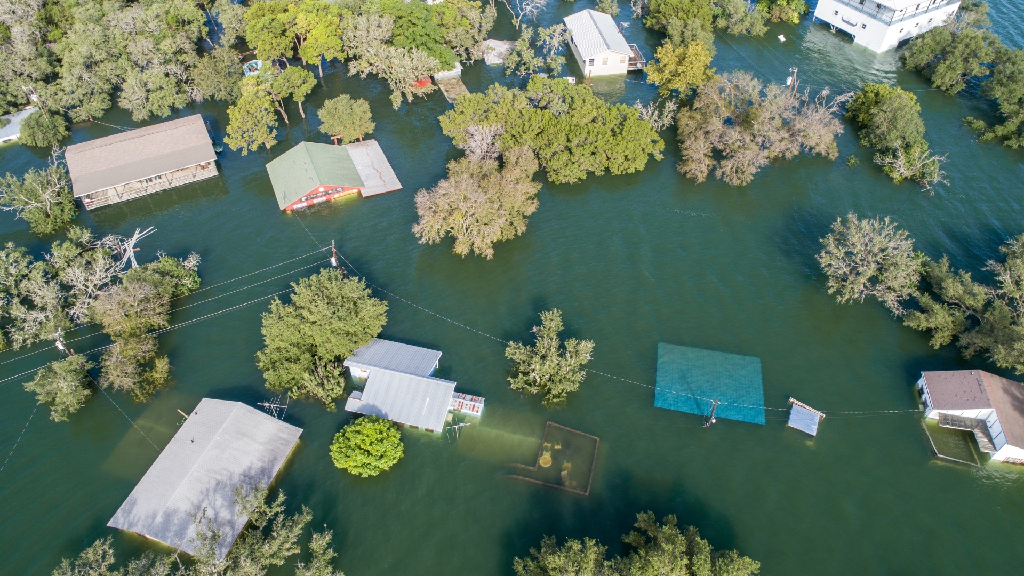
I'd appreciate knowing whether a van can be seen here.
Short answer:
No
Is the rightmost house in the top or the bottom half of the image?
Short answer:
bottom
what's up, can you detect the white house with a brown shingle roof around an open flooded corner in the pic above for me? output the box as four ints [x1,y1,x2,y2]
[905,367,1024,485]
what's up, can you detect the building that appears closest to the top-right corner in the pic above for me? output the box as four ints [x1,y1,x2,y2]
[812,0,963,71]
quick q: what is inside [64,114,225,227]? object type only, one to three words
house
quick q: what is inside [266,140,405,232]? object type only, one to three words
building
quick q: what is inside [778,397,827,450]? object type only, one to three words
shed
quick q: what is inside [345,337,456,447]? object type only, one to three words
house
